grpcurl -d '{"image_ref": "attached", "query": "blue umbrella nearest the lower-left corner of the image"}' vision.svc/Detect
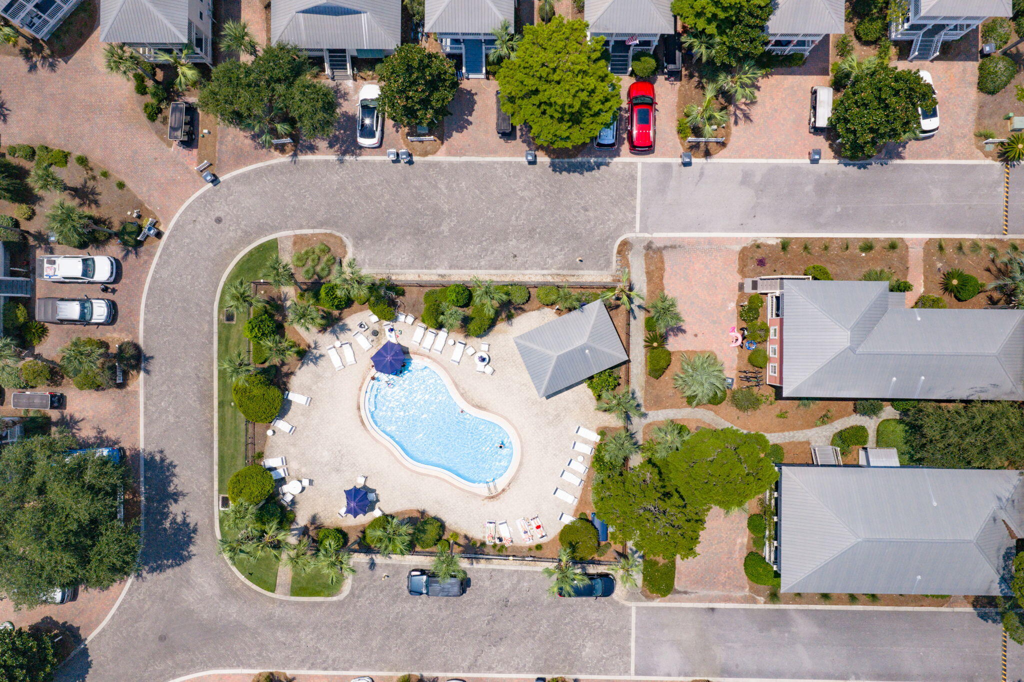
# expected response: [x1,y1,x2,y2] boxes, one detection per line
[338,485,373,519]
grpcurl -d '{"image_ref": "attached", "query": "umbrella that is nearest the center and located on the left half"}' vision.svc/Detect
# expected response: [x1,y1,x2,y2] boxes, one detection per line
[372,340,406,374]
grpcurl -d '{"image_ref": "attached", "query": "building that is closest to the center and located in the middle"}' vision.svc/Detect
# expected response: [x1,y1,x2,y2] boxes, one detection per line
[512,299,629,399]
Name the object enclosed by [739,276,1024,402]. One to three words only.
house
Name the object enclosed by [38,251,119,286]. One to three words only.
truck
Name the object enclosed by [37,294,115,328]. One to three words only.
truck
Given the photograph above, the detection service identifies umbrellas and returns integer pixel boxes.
[372,340,406,374]
[338,485,373,519]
